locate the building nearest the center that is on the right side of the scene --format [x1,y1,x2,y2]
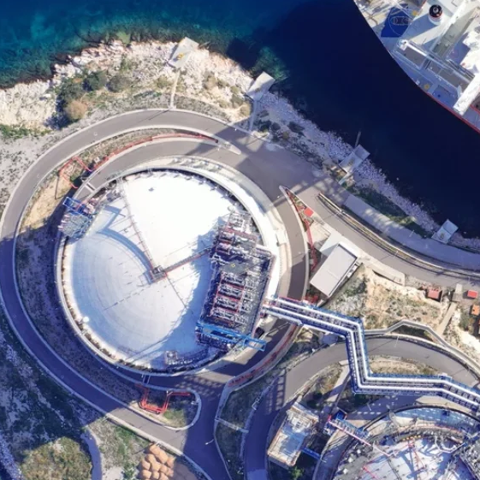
[310,231,363,297]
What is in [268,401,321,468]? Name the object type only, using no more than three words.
building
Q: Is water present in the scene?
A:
Yes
